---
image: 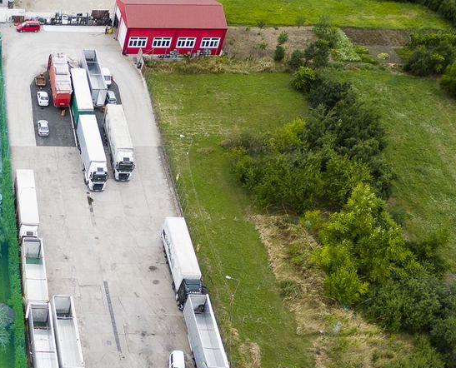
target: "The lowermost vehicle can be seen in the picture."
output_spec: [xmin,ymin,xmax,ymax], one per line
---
[165,348,184,368]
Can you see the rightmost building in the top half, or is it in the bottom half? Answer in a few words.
top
